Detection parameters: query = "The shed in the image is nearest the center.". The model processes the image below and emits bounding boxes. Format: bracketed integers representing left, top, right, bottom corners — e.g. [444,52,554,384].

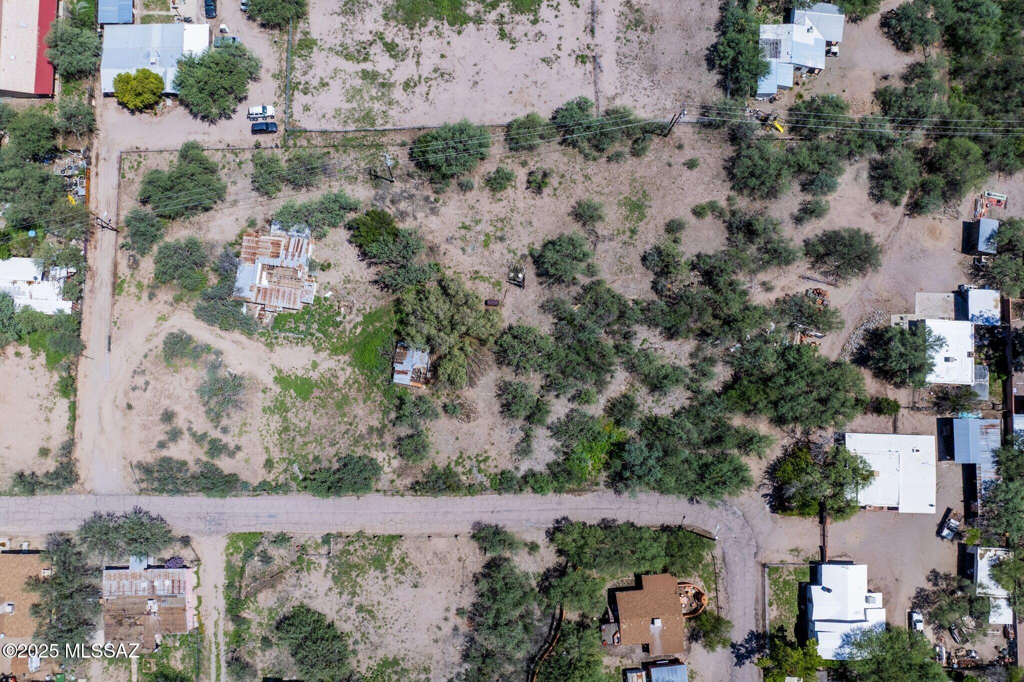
[393,343,431,388]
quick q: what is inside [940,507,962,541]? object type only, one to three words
truck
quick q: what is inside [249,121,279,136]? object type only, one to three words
car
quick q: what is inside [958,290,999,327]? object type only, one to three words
shed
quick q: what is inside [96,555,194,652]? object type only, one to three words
house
